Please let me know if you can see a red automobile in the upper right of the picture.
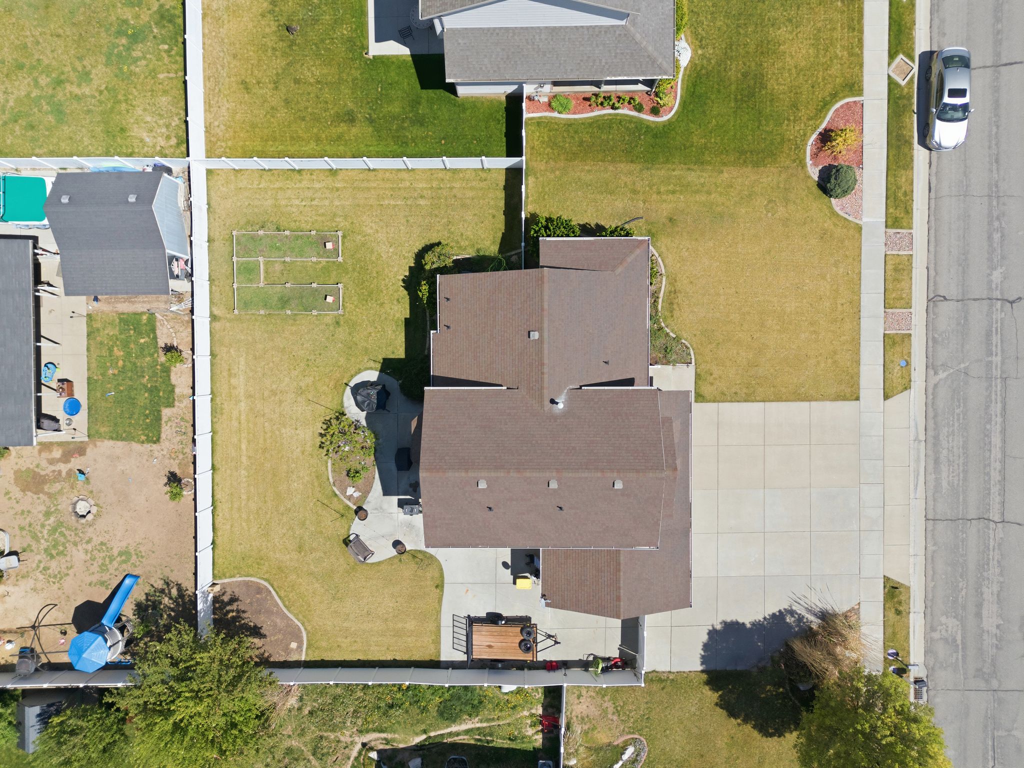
No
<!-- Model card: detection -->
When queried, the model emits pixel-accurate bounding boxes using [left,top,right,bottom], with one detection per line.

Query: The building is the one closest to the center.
[413,235,695,620]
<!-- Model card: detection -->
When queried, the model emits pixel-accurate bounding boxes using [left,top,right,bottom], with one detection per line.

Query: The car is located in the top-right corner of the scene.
[921,49,977,152]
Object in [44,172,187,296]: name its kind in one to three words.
shed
